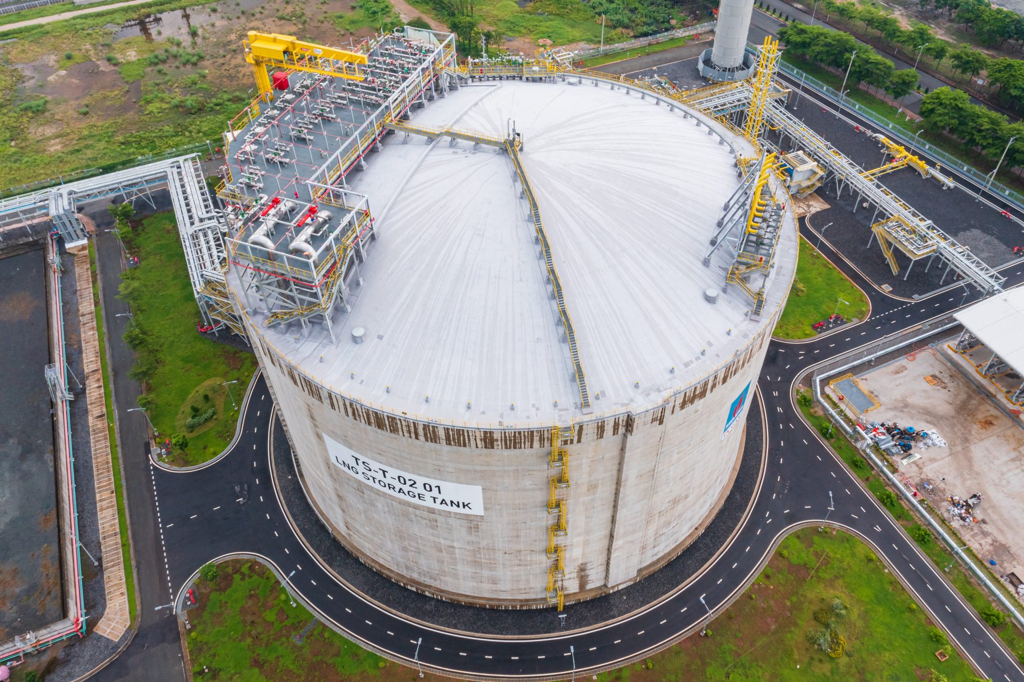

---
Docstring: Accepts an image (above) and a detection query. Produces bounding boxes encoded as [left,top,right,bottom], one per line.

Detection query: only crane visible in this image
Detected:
[239,27,369,105]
